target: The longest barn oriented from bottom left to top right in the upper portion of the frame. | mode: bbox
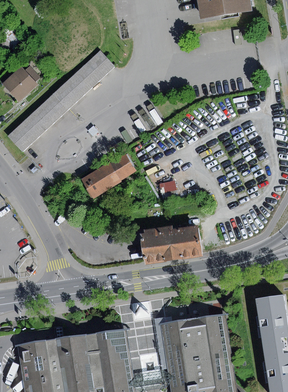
[7,51,114,152]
